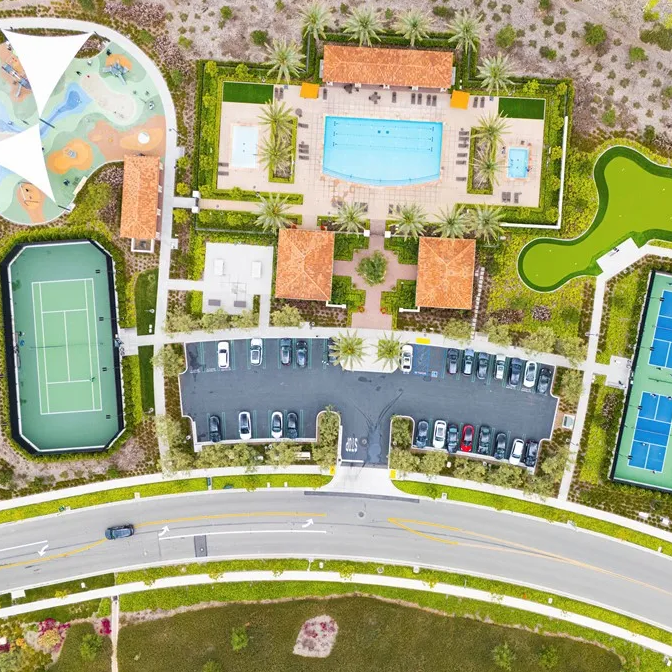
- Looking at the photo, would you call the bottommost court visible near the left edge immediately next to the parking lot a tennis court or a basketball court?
tennis court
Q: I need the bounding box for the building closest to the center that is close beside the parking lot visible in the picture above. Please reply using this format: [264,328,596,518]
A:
[275,229,335,301]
